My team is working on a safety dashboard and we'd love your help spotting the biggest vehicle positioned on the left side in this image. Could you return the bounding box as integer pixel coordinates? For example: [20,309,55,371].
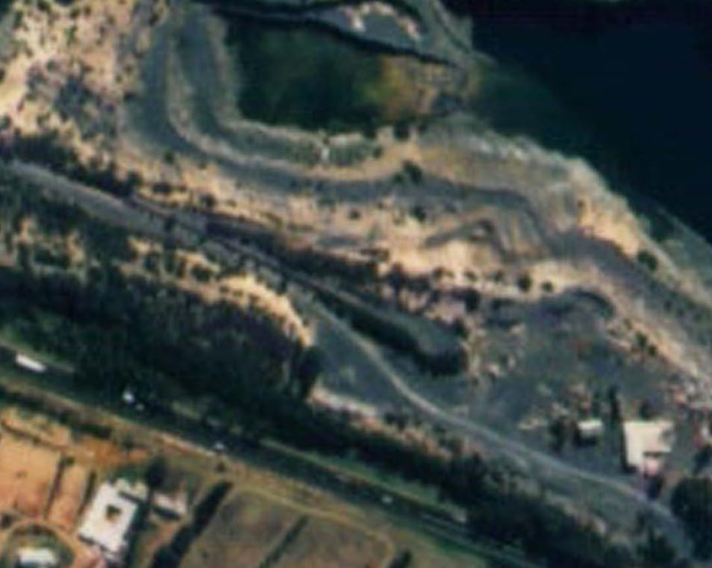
[14,356,42,369]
